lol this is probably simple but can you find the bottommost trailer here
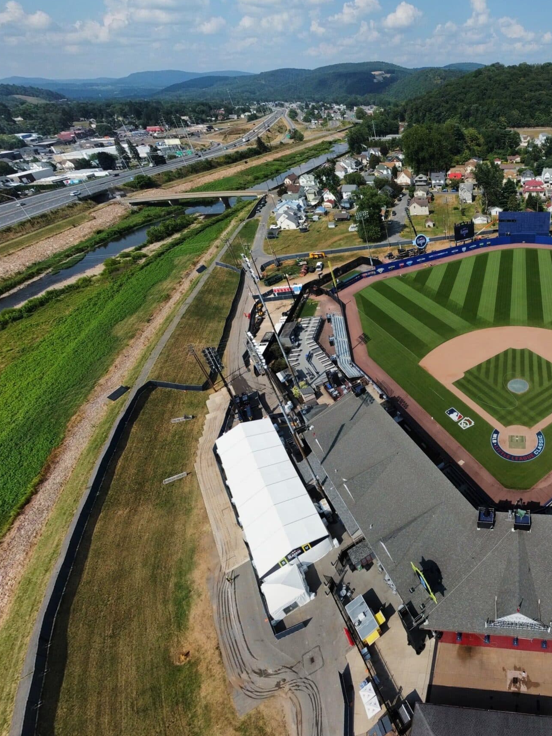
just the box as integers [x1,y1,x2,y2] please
[345,595,385,645]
